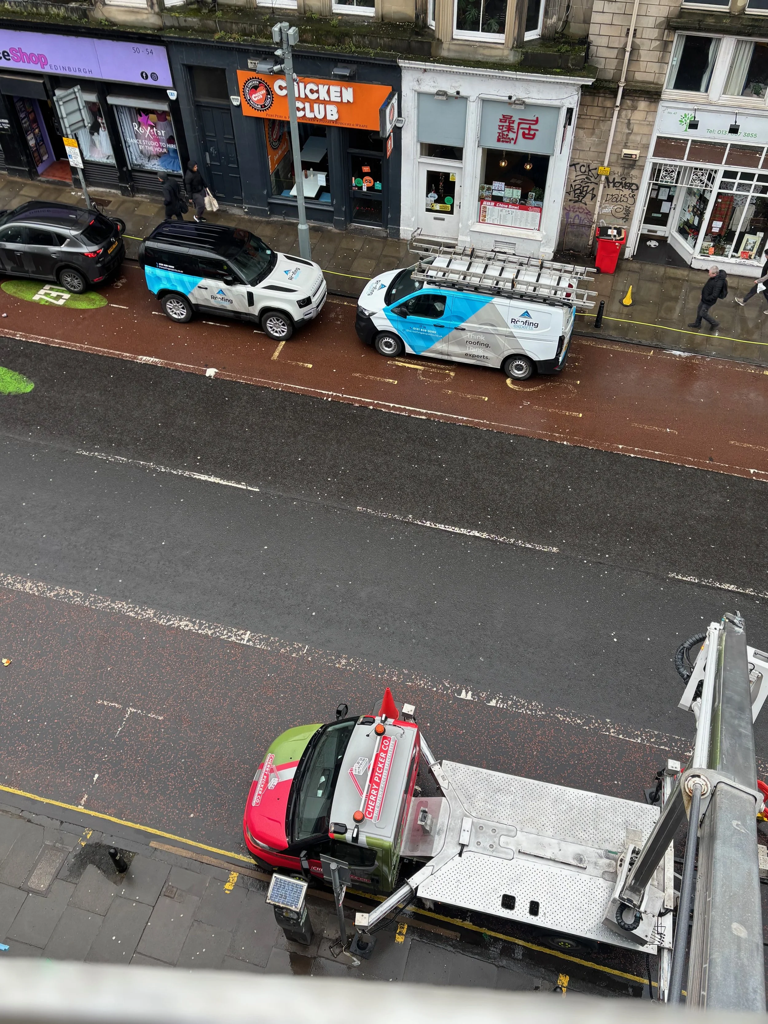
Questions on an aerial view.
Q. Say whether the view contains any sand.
No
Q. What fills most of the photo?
paved ground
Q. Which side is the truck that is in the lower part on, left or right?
right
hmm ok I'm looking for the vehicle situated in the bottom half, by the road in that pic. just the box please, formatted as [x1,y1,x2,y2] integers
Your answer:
[245,609,768,1010]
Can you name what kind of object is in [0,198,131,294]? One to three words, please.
car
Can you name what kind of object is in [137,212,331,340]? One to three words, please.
car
